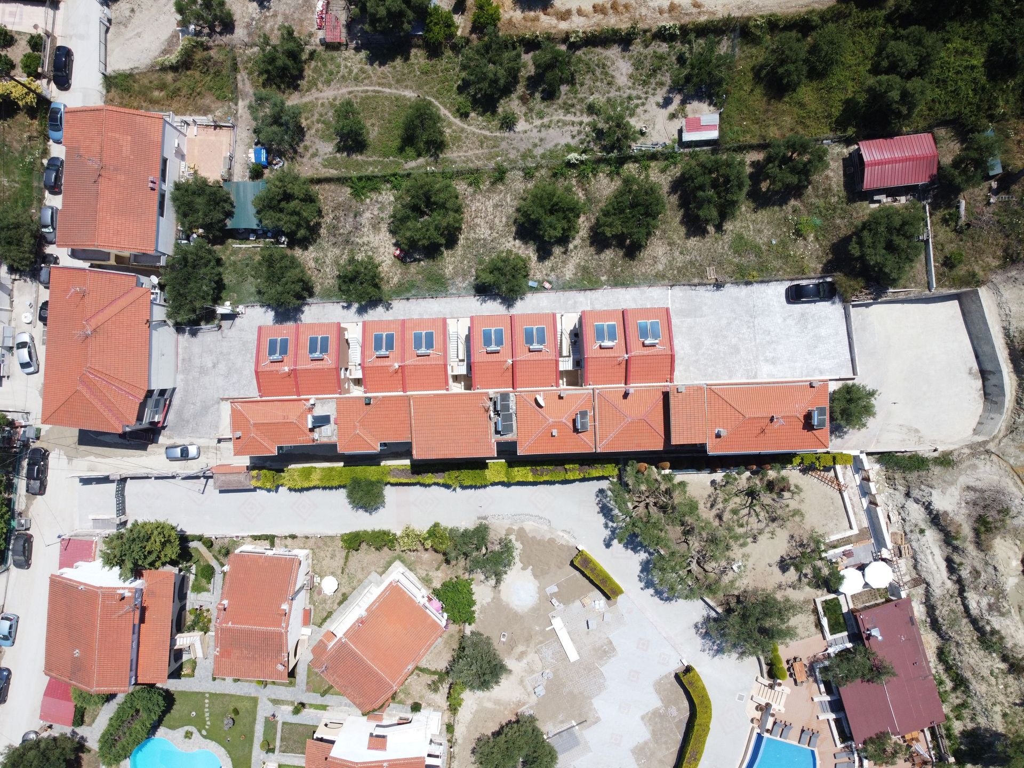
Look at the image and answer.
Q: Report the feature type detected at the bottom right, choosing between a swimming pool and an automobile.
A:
swimming pool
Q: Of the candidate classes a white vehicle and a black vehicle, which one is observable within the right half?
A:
black vehicle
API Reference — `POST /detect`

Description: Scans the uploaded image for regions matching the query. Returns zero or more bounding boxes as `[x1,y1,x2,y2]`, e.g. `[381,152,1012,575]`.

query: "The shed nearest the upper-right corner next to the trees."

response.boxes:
[857,133,938,205]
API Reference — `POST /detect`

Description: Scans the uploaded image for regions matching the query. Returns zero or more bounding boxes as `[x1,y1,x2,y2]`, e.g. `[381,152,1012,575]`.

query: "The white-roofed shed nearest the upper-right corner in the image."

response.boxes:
[680,113,719,146]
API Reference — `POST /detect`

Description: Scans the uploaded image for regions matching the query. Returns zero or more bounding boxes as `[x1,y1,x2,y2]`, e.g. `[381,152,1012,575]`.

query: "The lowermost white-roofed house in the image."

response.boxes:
[306,696,443,768]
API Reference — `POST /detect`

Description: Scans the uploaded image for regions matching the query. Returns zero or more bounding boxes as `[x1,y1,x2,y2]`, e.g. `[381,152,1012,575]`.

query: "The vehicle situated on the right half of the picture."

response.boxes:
[785,280,835,303]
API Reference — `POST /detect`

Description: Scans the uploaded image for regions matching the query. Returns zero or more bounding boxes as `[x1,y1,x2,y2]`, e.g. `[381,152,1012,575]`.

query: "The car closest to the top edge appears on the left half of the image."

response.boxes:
[50,45,77,92]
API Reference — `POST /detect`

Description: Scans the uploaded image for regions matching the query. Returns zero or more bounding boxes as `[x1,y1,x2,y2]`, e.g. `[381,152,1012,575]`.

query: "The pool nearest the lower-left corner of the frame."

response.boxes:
[127,734,225,768]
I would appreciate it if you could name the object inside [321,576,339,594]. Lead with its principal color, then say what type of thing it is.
white umbrella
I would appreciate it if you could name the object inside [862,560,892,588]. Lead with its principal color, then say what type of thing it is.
white umbrella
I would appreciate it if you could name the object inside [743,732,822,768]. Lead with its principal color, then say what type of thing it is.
blue swimming pool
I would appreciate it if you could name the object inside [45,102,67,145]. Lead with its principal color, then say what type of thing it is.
blue car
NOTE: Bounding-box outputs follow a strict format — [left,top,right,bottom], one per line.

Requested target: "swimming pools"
[743,732,822,768]
[127,734,225,768]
